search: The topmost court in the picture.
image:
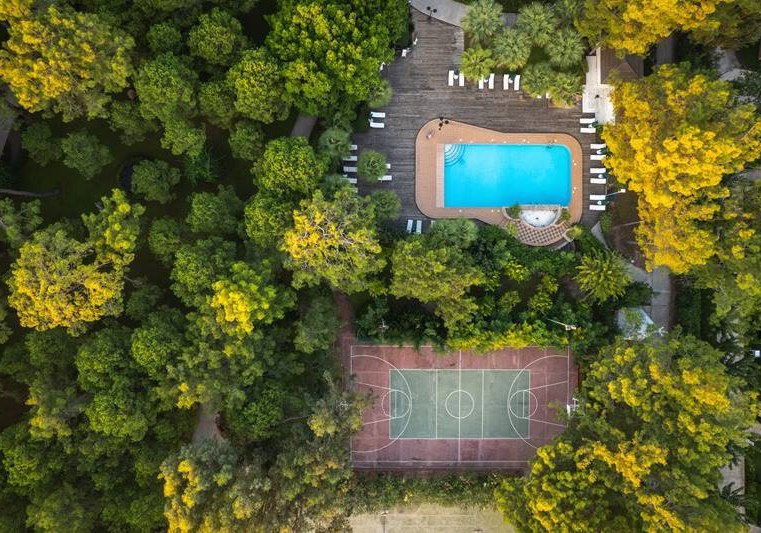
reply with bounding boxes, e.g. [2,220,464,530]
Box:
[334,343,578,474]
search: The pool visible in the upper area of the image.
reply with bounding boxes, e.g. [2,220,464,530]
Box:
[415,117,583,228]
